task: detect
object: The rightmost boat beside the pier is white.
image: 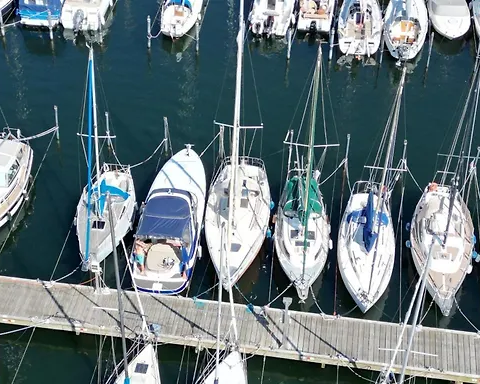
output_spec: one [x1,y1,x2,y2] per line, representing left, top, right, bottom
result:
[409,34,480,318]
